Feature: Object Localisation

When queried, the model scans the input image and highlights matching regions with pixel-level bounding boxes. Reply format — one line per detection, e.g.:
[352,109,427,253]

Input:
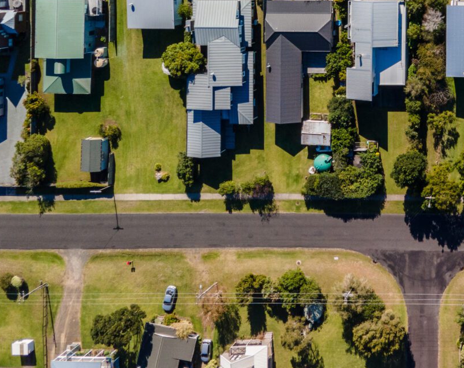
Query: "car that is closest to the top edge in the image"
[163,284,179,312]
